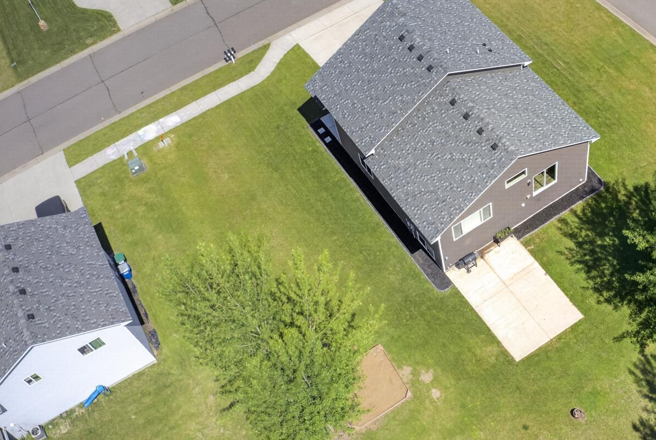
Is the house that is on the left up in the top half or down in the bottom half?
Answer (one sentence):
The bottom half of the photo is where the house that is on the left is.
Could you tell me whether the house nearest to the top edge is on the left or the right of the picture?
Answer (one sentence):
The house nearest to the top edge sits on the right side.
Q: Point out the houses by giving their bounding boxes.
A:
[0,207,156,429]
[306,0,598,273]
